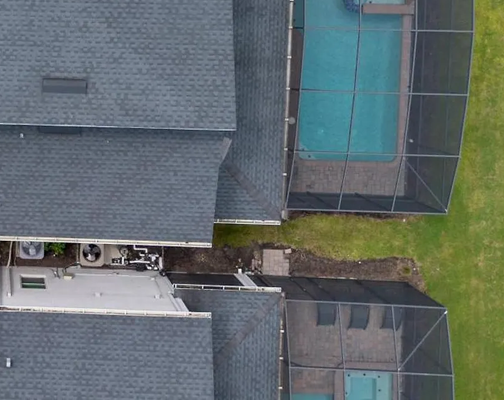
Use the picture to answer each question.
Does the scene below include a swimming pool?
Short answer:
Yes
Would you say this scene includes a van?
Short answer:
No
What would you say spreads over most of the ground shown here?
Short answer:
buildings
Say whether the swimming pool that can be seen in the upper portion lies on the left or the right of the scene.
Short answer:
right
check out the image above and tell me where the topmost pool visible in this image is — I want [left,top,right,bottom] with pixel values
[295,0,415,169]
